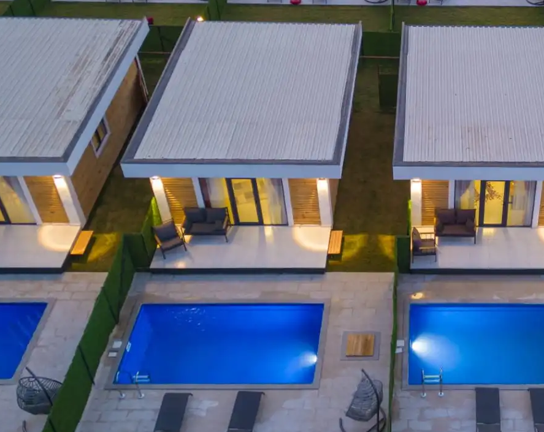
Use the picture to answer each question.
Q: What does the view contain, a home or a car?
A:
home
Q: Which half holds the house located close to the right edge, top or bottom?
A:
top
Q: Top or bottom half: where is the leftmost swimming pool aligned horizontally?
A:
bottom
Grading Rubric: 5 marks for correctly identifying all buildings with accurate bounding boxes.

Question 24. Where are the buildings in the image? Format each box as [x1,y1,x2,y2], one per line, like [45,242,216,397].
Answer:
[124,18,361,275]
[0,16,150,273]
[392,21,544,276]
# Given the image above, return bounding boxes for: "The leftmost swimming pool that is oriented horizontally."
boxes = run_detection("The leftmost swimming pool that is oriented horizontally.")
[102,296,332,391]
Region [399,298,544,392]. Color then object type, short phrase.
blue swimming pool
